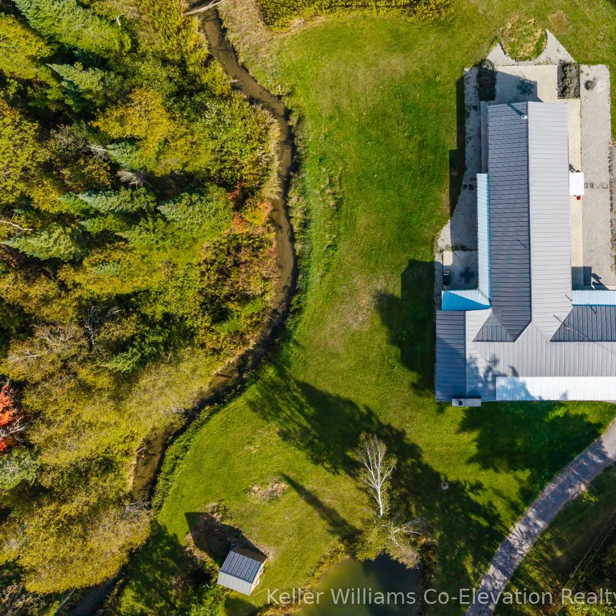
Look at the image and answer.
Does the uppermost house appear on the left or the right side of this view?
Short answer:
right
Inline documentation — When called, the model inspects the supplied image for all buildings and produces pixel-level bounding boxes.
[435,99,616,410]
[211,541,269,603]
